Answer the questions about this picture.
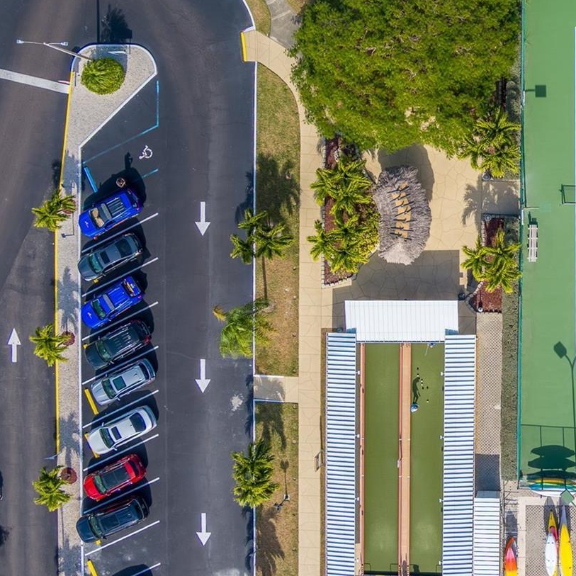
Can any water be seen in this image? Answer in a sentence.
No, water can't be seen anywhere here.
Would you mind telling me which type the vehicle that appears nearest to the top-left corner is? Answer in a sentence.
The vehicle that appears nearest to the top-left corner in the image is an automobile.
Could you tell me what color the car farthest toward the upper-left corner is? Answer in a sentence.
In this view, the car farthest toward the upper-left corner is blue.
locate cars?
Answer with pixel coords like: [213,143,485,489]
[88,405,163,455]
[78,187,148,236]
[75,491,155,541]
[90,357,162,402]
[75,229,148,278]
[80,277,150,325]
[83,318,157,368]
[82,451,153,498]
